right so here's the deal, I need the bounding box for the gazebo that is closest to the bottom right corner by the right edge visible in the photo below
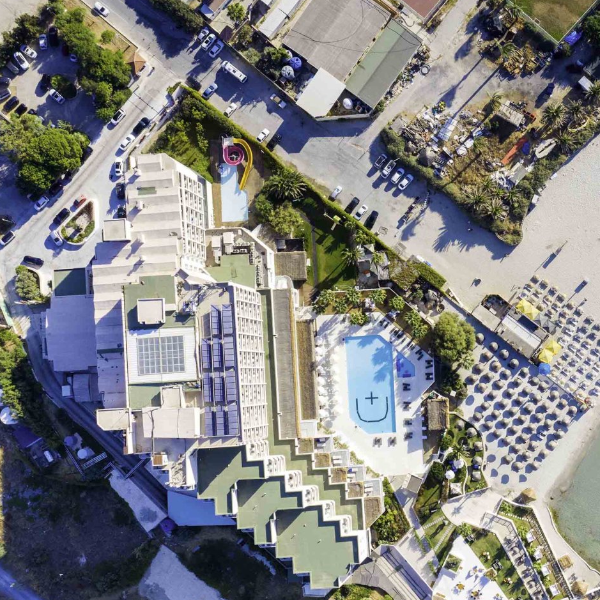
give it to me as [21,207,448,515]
[570,581,587,596]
